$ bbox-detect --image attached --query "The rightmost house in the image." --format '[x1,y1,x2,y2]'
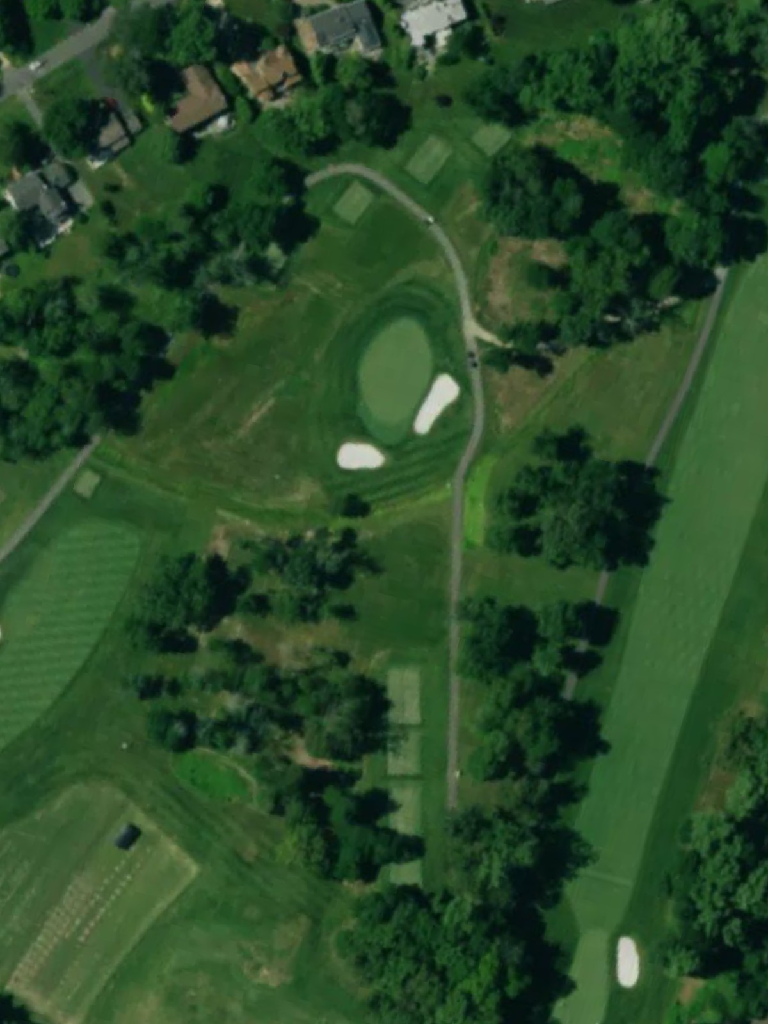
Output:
[400,0,470,45]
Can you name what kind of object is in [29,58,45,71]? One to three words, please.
vehicle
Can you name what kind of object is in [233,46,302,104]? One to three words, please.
house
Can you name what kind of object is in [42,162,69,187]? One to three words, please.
house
